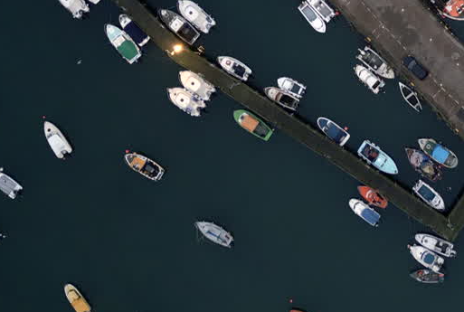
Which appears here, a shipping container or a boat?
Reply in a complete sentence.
This aerial view contains a boat.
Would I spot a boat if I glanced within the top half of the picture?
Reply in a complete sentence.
Yes, a boat shows up within the top half of the picture.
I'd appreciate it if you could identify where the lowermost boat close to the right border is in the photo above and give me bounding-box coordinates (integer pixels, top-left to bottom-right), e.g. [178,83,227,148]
[410,270,444,284]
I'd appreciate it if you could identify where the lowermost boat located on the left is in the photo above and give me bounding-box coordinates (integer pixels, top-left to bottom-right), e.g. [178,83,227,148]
[63,285,94,312]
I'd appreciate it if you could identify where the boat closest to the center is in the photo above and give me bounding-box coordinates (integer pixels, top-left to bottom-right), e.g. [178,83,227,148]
[233,109,277,145]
